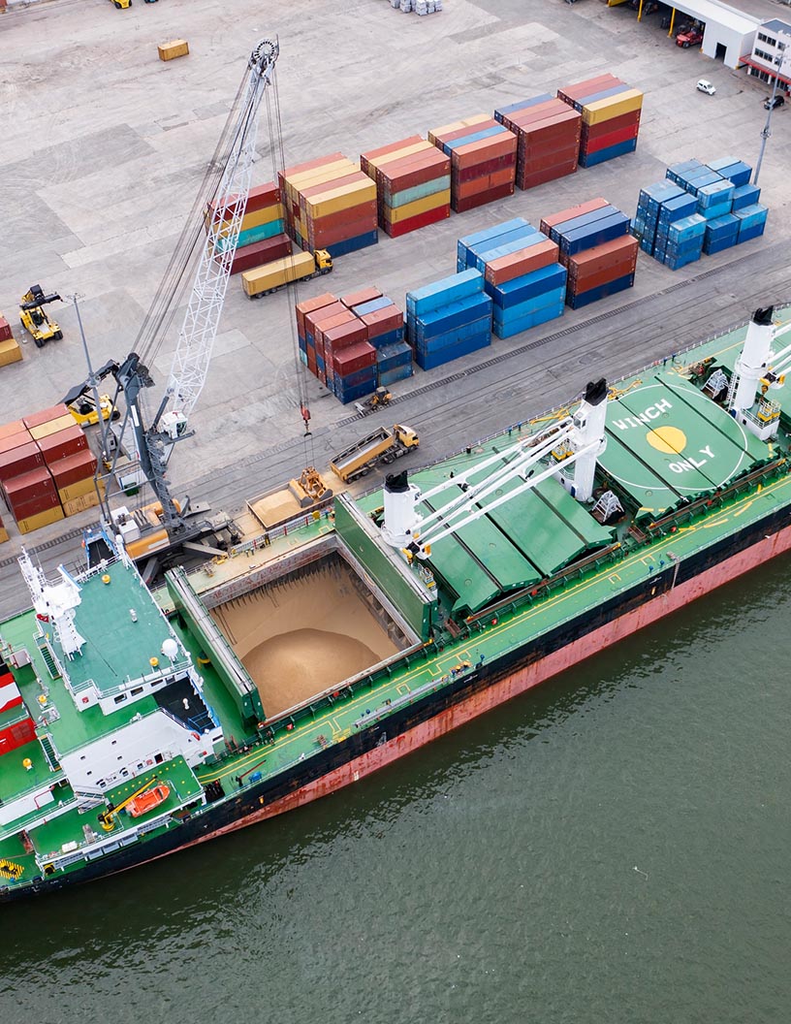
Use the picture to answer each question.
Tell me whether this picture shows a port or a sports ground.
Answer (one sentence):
The picture captures a port.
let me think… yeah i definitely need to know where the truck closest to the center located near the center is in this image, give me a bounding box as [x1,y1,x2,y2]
[330,426,421,483]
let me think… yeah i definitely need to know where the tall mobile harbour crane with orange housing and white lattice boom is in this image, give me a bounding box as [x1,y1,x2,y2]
[86,34,313,588]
